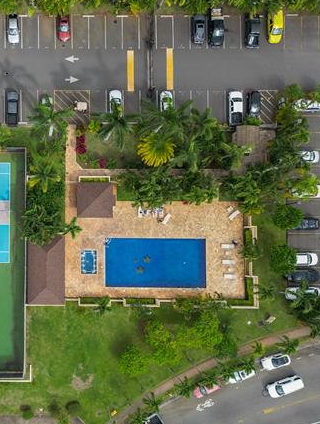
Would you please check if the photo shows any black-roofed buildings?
No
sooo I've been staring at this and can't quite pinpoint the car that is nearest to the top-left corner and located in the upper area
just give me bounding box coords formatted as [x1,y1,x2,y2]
[5,13,19,44]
